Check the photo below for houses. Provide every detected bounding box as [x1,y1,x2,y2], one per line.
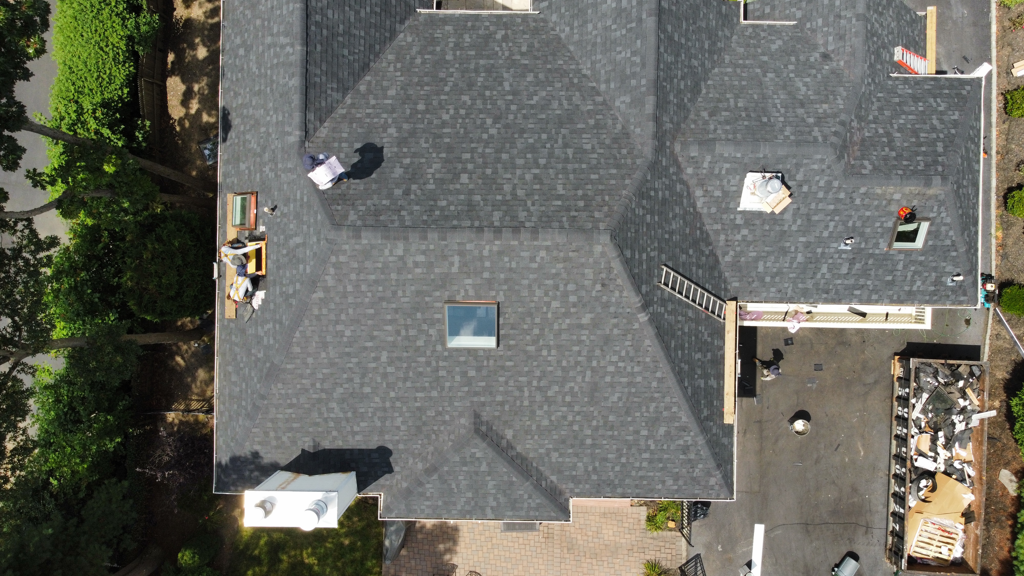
[214,0,996,531]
